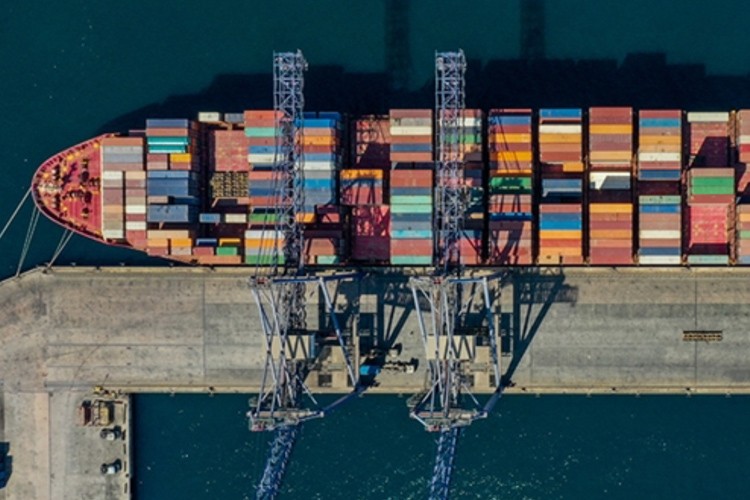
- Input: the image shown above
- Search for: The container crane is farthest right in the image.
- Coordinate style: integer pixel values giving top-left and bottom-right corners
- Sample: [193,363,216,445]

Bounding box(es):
[409,47,523,500]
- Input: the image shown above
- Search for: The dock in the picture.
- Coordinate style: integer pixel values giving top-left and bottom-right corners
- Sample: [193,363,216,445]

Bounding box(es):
[0,265,750,500]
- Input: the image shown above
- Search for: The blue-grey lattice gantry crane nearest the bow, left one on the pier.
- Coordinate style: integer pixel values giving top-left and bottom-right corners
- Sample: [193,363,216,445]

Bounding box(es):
[246,47,385,500]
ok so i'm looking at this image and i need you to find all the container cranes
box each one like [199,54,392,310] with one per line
[409,47,523,500]
[246,47,385,500]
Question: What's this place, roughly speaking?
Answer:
port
